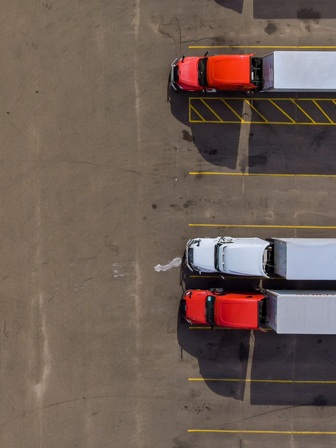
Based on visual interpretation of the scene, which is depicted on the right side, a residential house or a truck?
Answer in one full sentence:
Visible on the right side is a truck.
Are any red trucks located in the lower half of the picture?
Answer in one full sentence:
Yes, I can see a red truck in the lower half of the picture.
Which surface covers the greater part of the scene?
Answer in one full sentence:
What you mostly see from above here is paved ground.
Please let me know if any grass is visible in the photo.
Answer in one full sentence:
No, there's no grass in this view.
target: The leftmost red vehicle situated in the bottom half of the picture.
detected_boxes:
[180,287,289,333]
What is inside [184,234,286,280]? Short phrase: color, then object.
white truck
